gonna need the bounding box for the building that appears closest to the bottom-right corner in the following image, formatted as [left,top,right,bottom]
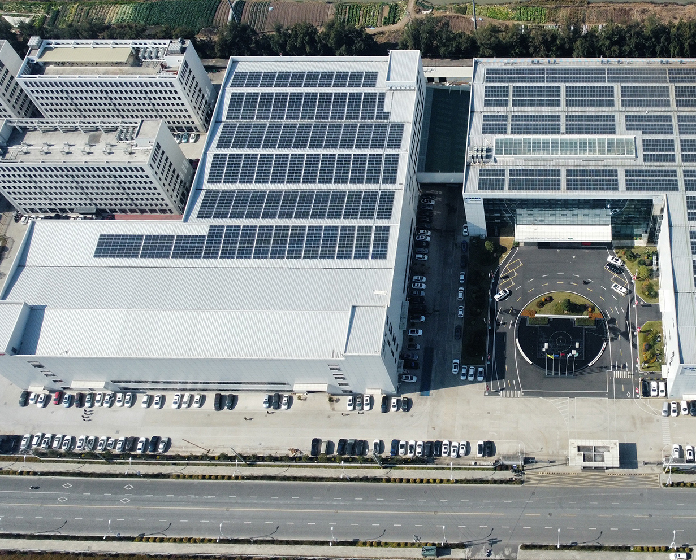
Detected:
[569,439,619,470]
